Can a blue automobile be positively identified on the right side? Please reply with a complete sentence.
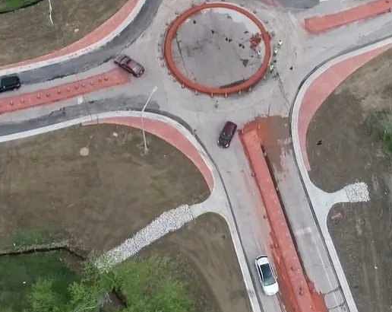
No, there's no blue automobile to be seen on the right side.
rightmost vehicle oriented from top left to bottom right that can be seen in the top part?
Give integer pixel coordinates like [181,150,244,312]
[113,52,146,80]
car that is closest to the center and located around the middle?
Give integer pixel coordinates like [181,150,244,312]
[216,118,239,152]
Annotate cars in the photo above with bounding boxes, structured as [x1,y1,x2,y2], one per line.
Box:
[254,255,279,297]
[113,52,146,80]
[0,75,22,93]
[216,118,239,152]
